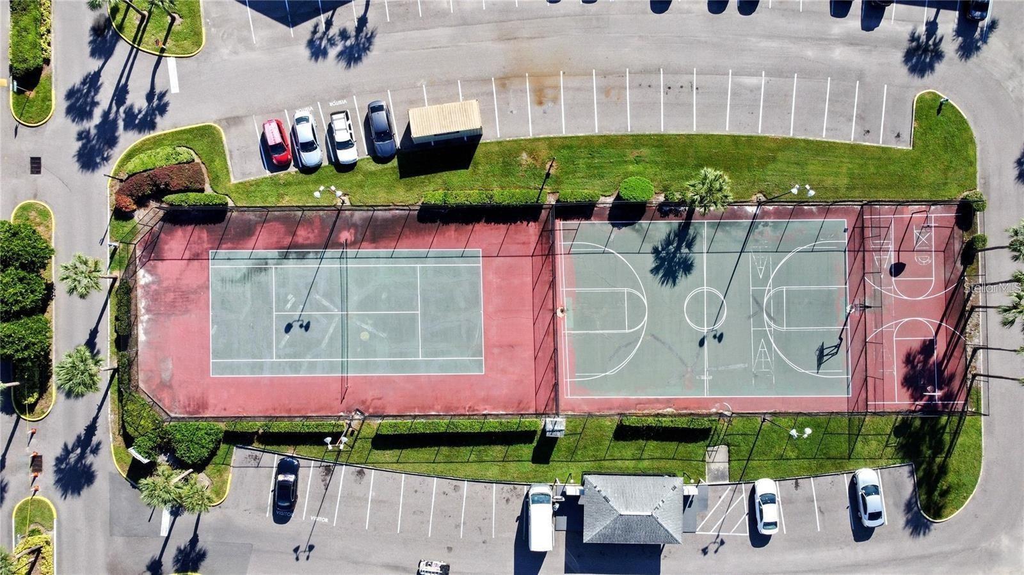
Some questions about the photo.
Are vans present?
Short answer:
Yes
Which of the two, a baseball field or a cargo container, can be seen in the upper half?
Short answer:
cargo container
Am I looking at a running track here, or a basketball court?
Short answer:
basketball court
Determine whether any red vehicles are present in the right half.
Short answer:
No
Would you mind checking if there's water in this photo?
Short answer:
No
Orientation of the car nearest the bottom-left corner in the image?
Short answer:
from top to bottom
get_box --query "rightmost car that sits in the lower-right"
[853,468,884,526]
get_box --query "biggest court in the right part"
[554,204,868,414]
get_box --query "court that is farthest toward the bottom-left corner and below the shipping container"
[135,206,556,415]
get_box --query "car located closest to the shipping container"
[368,101,398,160]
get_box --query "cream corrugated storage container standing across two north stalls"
[407,98,483,143]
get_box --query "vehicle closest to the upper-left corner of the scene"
[263,118,295,169]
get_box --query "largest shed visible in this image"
[564,475,697,544]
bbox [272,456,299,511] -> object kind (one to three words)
car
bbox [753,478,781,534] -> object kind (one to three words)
car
